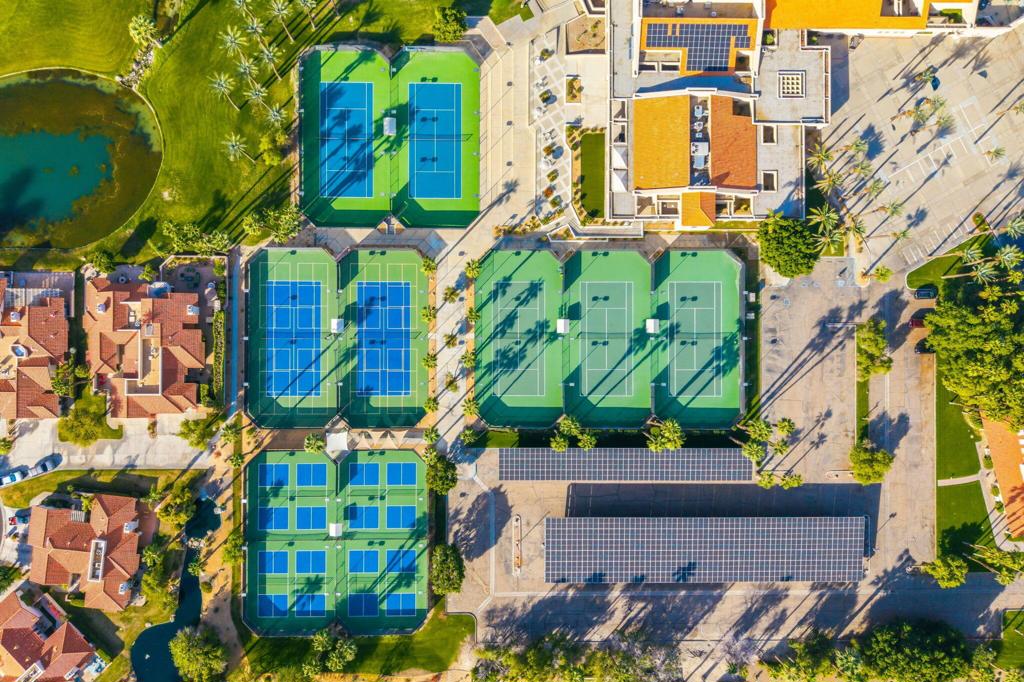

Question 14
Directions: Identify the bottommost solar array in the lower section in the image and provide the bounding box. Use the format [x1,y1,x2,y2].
[545,517,865,583]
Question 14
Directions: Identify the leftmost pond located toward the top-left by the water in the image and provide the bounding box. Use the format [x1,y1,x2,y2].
[0,68,163,249]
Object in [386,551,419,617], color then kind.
blue sports court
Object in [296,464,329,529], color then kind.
blue sports court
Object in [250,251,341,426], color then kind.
blue tennis court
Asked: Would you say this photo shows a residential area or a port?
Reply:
residential area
